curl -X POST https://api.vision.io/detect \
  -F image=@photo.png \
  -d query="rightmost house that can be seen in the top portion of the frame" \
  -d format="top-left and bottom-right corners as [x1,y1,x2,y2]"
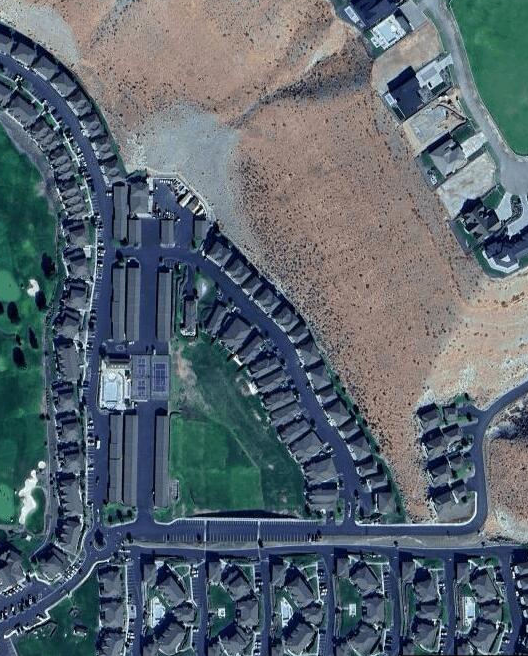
[485,222,528,270]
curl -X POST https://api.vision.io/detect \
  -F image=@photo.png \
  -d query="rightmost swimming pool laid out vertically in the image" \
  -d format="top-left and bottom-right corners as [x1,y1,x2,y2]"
[462,596,474,628]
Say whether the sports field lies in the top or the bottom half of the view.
bottom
